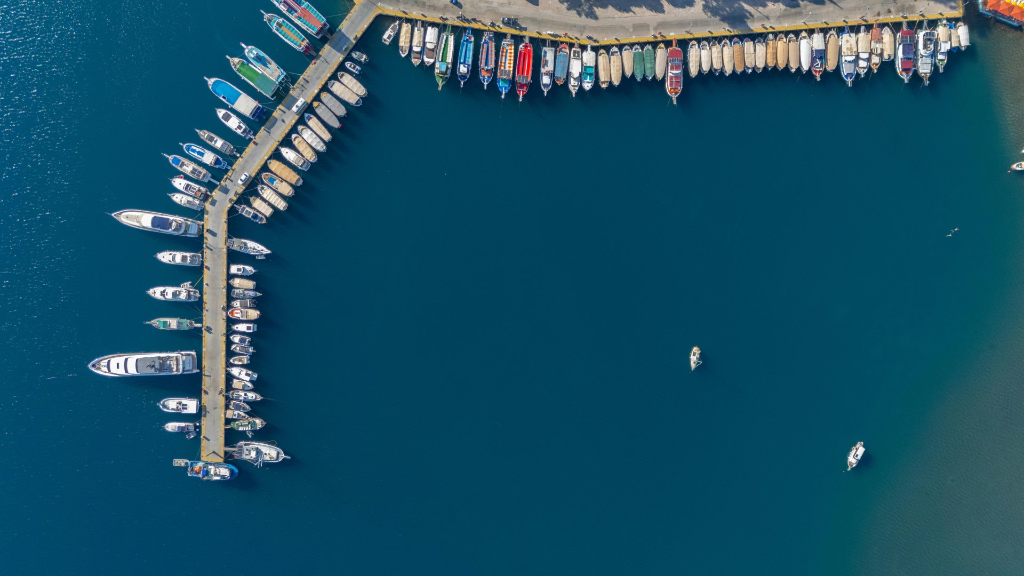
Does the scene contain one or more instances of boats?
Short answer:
Yes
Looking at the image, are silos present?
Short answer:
No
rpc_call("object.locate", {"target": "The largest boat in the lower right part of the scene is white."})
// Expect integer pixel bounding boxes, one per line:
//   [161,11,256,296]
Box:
[849,440,866,470]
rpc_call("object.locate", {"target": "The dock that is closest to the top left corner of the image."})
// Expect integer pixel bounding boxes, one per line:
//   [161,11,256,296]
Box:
[201,7,376,462]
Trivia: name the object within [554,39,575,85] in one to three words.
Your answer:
boat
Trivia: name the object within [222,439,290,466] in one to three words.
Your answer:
boat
